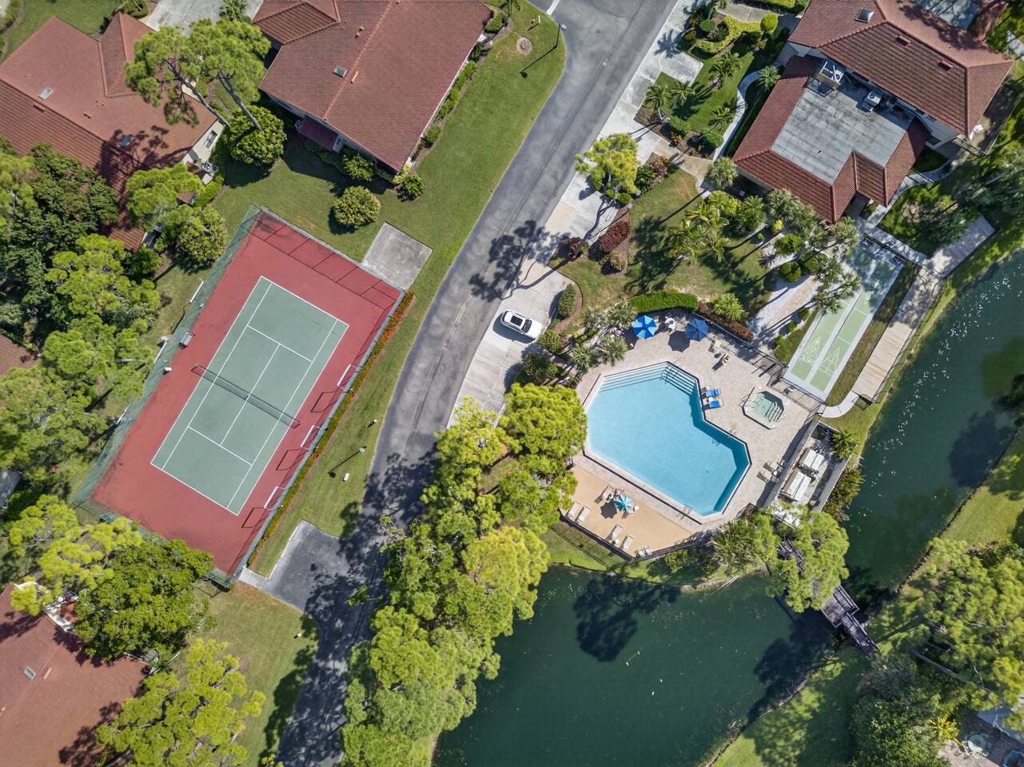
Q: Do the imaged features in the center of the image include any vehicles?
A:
Yes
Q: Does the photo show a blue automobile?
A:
No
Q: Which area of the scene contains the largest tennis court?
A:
left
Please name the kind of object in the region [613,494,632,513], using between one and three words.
umbrella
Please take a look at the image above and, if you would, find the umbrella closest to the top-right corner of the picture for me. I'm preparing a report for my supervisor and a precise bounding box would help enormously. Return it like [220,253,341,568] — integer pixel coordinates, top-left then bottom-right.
[684,317,708,341]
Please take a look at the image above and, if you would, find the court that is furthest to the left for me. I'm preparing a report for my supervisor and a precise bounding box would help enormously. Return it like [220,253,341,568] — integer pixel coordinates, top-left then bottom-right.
[95,217,405,576]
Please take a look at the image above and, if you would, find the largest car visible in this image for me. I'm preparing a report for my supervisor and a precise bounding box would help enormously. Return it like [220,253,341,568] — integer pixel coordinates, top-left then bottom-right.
[500,308,543,339]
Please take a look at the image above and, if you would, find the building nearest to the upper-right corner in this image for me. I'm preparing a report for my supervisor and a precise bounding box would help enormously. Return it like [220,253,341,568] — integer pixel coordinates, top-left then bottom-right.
[734,0,1014,221]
